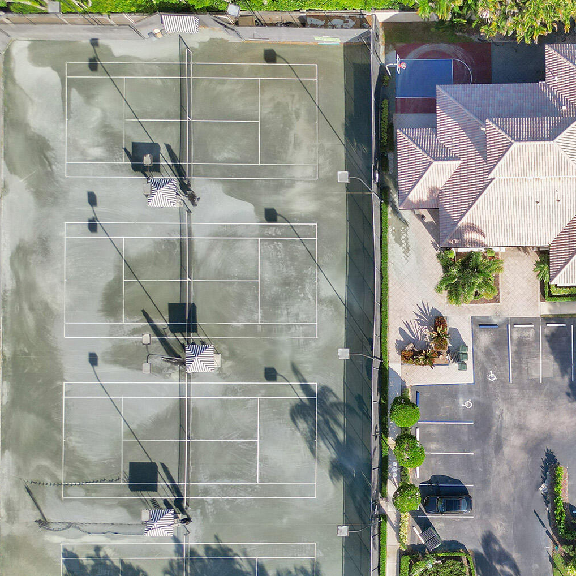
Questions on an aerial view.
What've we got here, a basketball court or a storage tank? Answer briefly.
basketball court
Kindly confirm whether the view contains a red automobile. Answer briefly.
No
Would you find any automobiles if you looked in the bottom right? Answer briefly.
Yes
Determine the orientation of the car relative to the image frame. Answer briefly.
from side to side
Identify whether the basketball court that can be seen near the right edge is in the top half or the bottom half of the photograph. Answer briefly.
top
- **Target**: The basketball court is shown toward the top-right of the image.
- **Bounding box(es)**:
[395,43,553,114]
